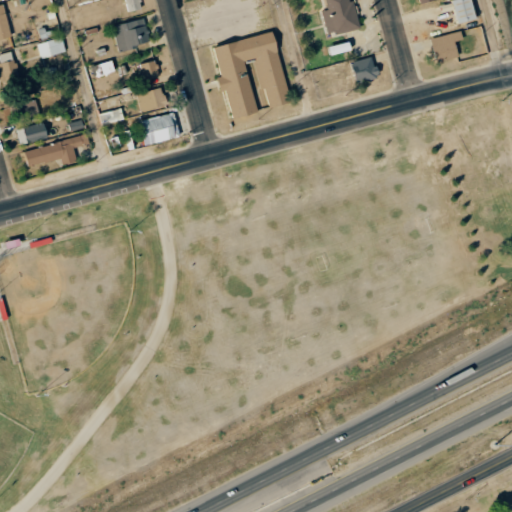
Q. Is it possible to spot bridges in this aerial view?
No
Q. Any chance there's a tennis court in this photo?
No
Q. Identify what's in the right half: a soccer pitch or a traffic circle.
soccer pitch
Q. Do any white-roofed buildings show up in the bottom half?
No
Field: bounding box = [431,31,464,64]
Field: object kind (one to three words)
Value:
house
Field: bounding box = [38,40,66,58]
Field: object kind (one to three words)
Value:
house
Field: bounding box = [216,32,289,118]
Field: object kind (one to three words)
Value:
building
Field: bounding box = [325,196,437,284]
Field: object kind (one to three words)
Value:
soccer field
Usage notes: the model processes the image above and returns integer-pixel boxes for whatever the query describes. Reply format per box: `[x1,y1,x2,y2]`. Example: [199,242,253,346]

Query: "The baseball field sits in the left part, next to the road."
[0,224,134,394]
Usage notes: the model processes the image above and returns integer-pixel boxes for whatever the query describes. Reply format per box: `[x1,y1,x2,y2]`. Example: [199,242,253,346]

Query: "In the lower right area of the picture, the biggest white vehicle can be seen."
[434,368,474,391]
